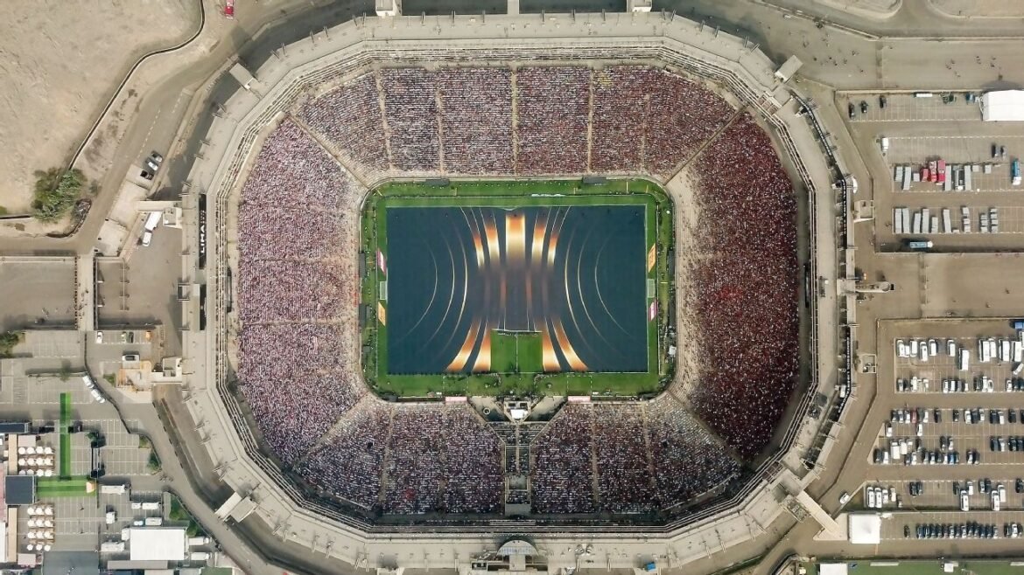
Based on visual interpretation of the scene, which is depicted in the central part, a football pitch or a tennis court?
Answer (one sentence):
Looking in the central part, you will find a football pitch.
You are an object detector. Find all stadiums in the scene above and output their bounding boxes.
[162,0,879,575]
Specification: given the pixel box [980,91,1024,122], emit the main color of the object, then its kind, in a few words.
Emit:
white tent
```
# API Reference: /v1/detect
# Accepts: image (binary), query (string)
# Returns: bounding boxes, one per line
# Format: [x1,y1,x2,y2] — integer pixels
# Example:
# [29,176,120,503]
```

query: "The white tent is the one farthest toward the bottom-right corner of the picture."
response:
[847,513,881,544]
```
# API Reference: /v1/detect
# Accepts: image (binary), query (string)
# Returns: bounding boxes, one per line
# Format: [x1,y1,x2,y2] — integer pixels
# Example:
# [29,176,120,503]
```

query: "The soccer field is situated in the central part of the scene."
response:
[361,179,674,401]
